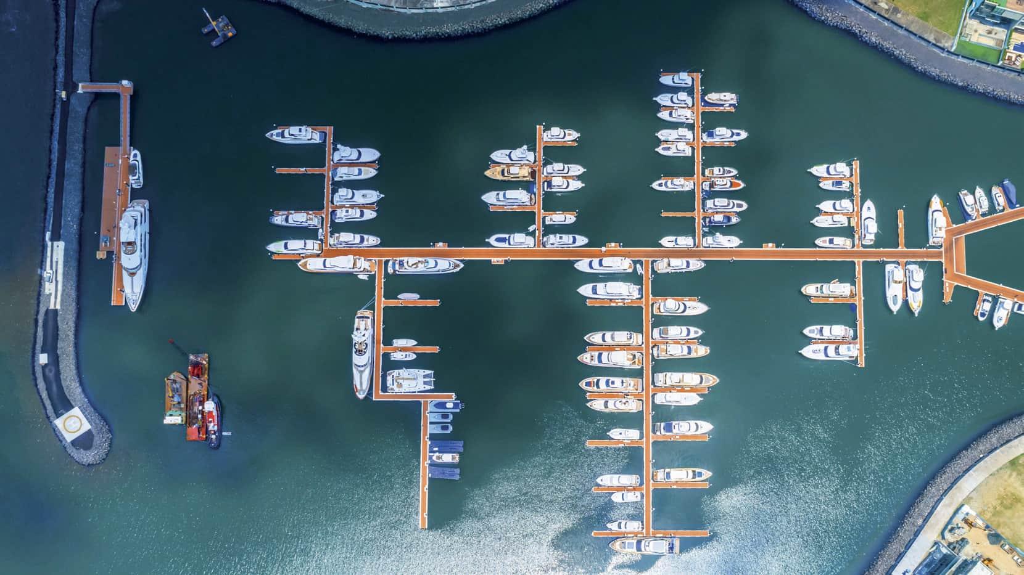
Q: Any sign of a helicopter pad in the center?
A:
No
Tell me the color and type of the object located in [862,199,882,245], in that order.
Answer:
white boat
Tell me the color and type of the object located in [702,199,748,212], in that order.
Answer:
white boat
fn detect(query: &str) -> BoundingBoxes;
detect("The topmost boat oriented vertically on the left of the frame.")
[130,149,143,191]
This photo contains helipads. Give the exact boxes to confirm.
[55,407,91,442]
